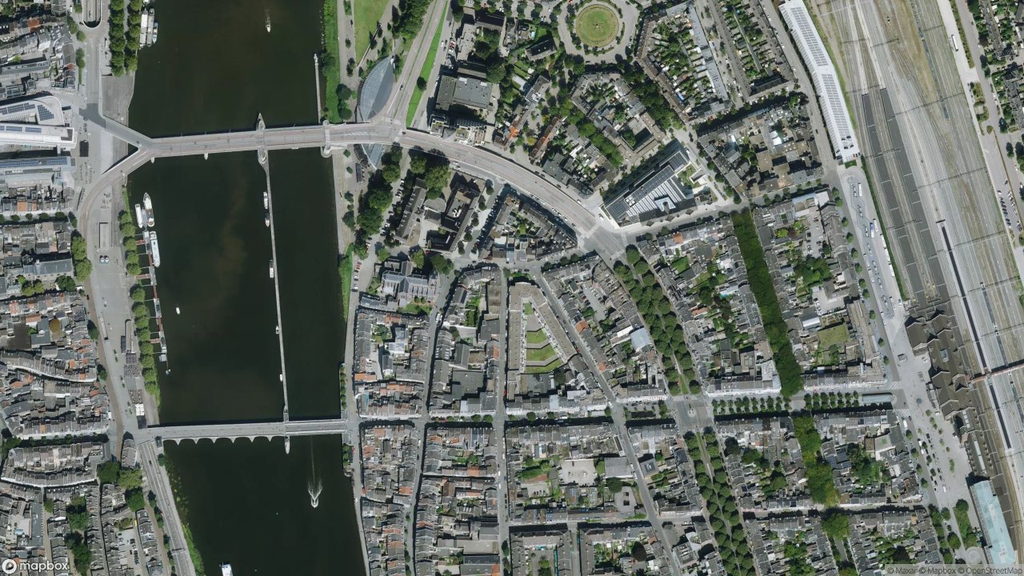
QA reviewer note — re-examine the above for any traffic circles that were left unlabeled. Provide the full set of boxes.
[572,2,622,50]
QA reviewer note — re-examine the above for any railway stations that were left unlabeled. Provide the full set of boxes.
[905,314,991,479]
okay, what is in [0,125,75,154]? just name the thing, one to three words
building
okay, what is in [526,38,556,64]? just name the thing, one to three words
house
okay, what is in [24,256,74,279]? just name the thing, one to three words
building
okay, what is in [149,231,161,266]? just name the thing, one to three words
boat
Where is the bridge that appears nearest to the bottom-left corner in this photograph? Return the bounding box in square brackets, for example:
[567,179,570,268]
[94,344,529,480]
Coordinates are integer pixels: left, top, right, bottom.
[138,408,350,455]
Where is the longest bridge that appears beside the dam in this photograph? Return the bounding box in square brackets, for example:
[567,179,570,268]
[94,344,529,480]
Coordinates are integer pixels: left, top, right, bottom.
[86,114,594,232]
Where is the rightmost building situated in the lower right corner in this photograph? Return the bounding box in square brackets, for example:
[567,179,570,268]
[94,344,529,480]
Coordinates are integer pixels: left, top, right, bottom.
[969,480,1017,576]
